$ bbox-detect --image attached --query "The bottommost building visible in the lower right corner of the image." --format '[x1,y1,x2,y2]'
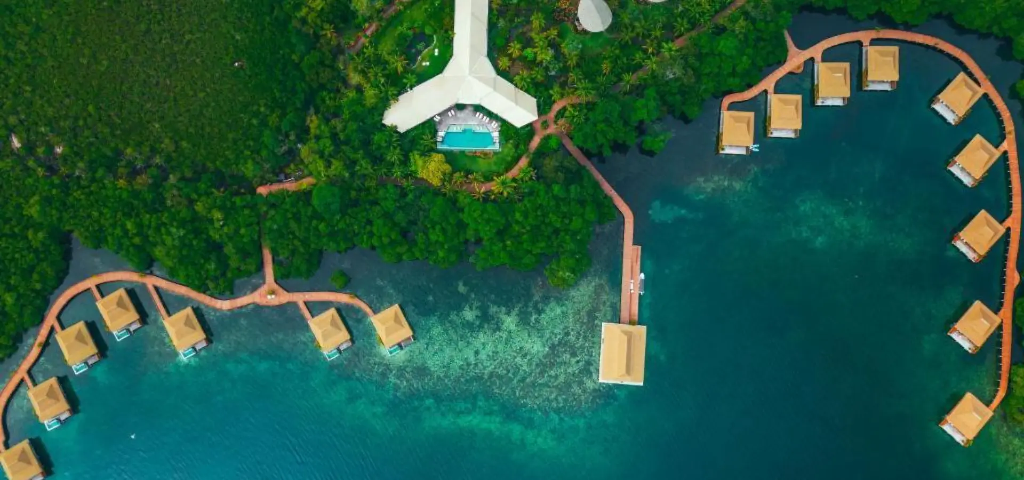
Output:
[937,392,993,442]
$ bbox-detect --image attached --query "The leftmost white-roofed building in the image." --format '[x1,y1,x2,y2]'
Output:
[383,0,538,132]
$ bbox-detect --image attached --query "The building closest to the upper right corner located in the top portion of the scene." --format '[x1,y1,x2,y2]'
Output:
[929,71,985,124]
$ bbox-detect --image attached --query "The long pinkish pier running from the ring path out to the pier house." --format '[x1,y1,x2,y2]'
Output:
[563,137,633,323]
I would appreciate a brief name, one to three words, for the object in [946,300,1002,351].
house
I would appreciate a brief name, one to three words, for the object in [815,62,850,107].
house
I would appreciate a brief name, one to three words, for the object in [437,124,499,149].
swimming pool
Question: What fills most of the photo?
water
